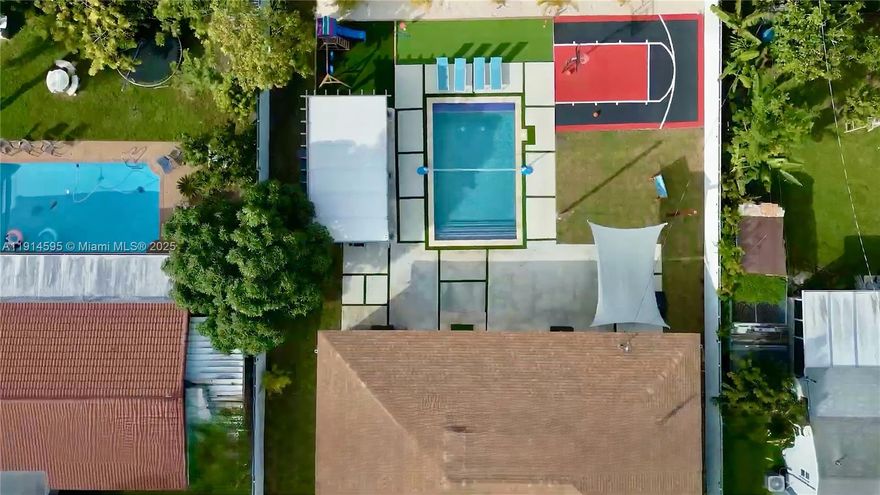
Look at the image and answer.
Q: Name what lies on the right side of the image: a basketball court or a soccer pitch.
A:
basketball court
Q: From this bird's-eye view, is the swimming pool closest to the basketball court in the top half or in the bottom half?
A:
top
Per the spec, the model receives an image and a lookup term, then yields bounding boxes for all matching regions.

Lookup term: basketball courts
[554,16,705,131]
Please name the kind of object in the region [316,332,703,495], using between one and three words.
house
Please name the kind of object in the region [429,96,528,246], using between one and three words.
swimming pool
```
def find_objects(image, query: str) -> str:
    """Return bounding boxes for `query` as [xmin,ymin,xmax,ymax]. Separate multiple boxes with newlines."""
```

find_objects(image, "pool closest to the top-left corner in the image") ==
[0,141,188,252]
